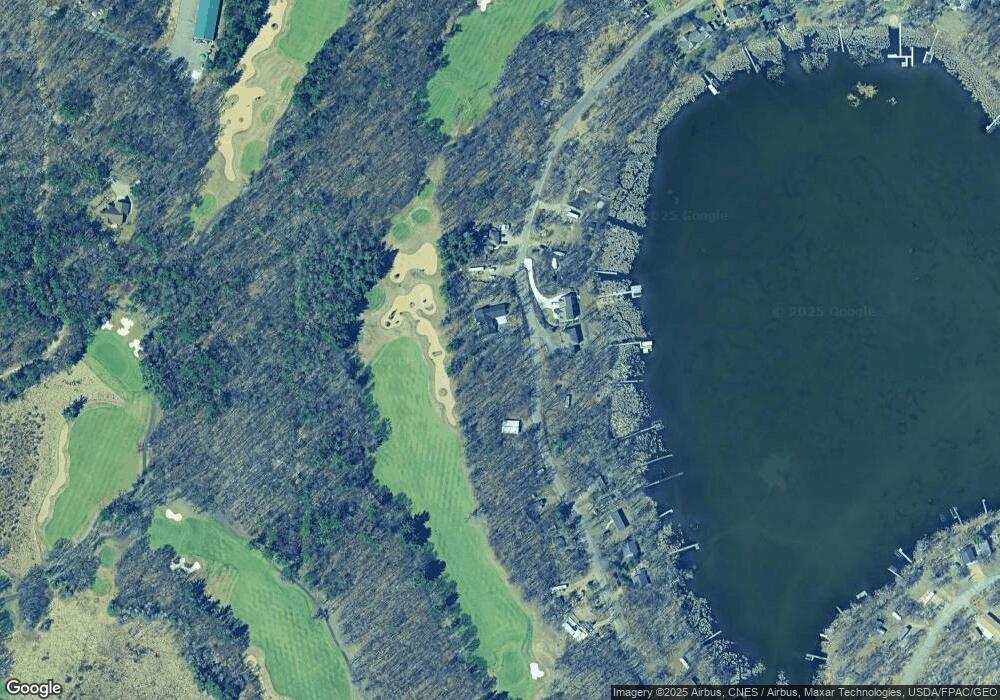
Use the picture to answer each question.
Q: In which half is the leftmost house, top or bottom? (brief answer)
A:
top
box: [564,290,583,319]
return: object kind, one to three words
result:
house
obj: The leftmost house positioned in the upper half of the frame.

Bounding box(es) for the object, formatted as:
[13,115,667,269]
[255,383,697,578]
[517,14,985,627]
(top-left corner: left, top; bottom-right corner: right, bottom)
[103,196,134,225]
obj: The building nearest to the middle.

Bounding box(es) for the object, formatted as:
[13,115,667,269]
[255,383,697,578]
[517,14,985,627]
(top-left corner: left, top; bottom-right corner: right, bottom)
[476,303,511,334]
